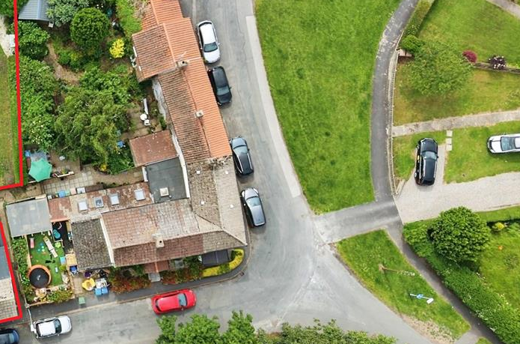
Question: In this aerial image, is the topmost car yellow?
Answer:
No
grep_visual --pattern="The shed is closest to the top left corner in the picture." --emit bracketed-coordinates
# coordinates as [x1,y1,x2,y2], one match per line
[18,0,50,23]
